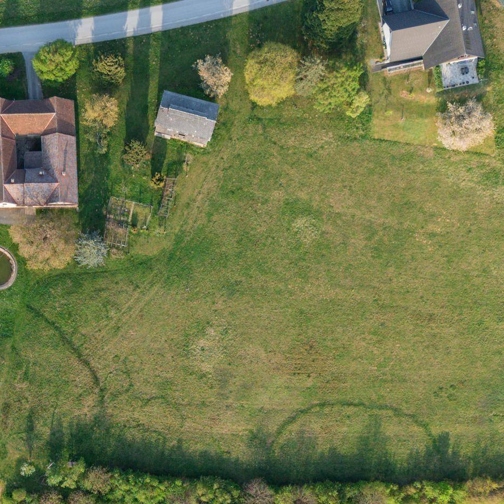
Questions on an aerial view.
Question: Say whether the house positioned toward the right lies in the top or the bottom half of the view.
top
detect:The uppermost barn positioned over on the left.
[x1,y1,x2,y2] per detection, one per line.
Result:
[154,90,219,146]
